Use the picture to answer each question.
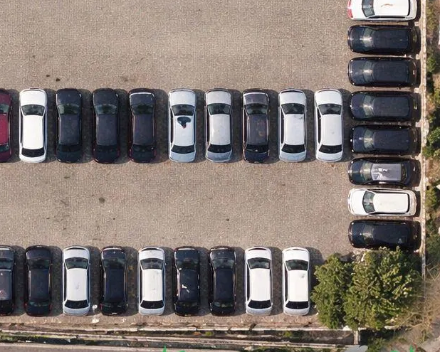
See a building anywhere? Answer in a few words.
No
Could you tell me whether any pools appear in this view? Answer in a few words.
No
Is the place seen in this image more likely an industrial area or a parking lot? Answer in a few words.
parking lot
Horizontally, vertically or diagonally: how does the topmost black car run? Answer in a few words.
horizontally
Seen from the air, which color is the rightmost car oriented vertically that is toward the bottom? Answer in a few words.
white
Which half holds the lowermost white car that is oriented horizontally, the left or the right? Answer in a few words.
right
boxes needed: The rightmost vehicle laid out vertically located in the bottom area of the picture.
[282,244,313,317]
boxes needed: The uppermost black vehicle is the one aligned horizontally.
[347,23,420,55]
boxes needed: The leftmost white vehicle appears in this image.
[18,86,48,163]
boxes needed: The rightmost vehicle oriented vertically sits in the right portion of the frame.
[314,89,345,164]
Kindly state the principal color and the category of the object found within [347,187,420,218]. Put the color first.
white car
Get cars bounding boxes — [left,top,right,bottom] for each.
[347,23,420,55]
[168,89,198,164]
[204,89,235,165]
[245,244,274,317]
[62,244,91,317]
[349,90,420,123]
[282,244,313,317]
[347,0,420,21]
[172,244,202,317]
[18,86,48,163]
[347,187,420,218]
[347,55,420,89]
[0,245,16,318]
[346,157,419,187]
[23,245,52,318]
[240,89,271,164]
[277,86,309,163]
[349,124,420,157]
[54,87,84,164]
[347,218,419,250]
[138,244,168,317]
[0,87,13,164]
[314,89,345,164]
[98,245,128,318]
[90,87,121,164]
[208,244,238,317]
[127,87,157,164]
